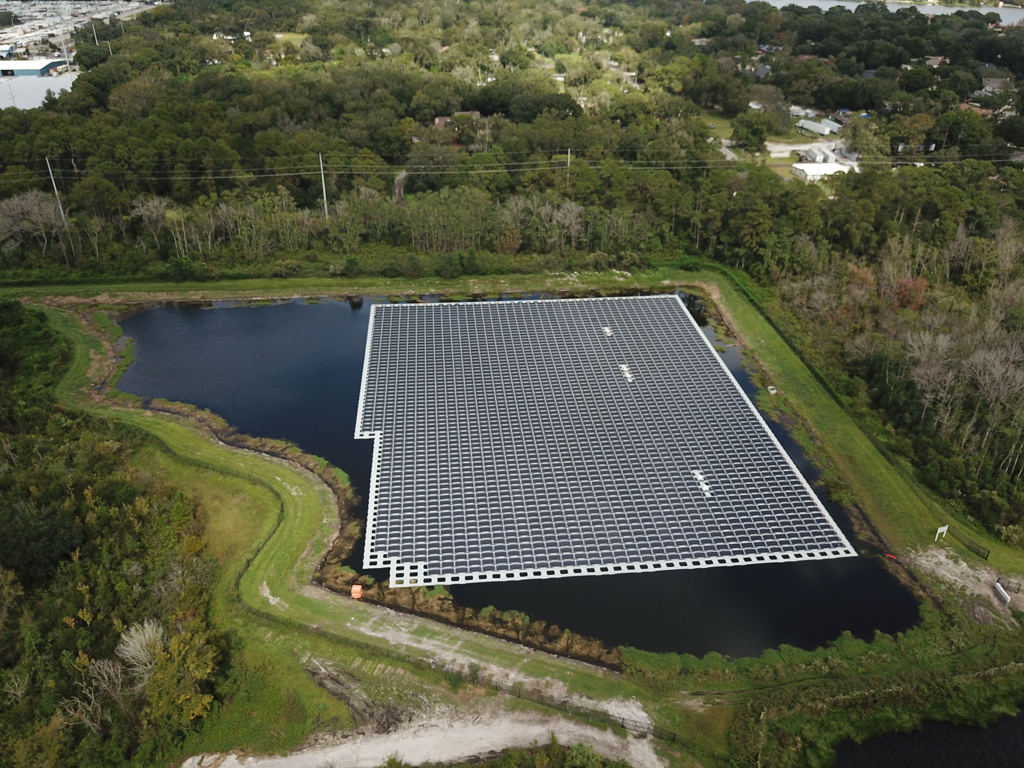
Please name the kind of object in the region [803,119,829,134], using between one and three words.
vehicle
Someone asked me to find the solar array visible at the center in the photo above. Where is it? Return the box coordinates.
[353,294,858,588]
